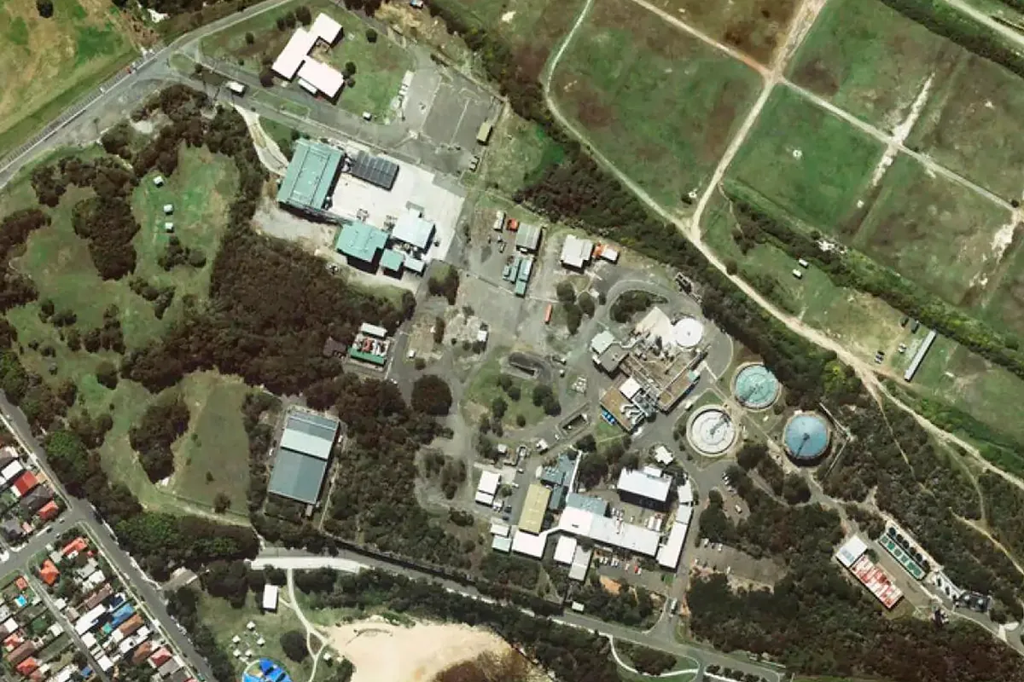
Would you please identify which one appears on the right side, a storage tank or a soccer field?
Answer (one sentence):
The feature located on the right side is a storage tank.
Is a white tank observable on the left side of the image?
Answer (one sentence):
No, no white tank appears on the left side of the image.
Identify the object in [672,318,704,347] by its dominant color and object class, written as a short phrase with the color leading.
white storage tank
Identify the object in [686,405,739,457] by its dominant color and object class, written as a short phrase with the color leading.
white storage tank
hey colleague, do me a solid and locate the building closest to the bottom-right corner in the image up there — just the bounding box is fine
[851,556,903,608]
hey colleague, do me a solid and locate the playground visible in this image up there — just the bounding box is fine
[242,658,289,682]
